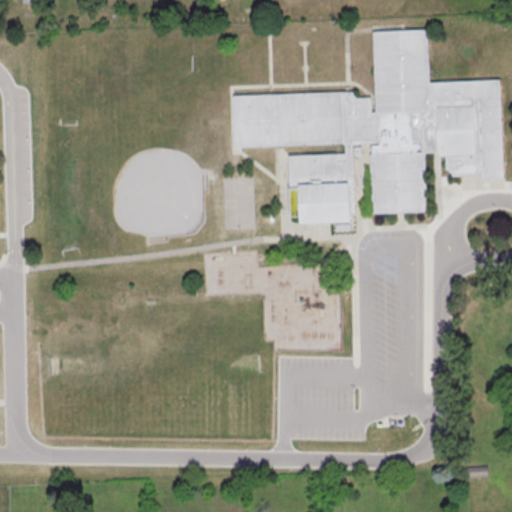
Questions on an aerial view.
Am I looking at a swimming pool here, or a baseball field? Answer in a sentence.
The one in the frame is a baseball field.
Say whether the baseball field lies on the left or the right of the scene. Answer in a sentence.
It is on the left.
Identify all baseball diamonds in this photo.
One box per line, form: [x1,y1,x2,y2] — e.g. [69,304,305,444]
[113,147,216,246]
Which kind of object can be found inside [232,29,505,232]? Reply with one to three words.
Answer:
building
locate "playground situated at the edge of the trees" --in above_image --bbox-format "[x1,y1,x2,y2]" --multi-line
[204,250,342,350]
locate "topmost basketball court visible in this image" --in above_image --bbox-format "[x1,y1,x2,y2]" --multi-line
[224,177,256,230]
